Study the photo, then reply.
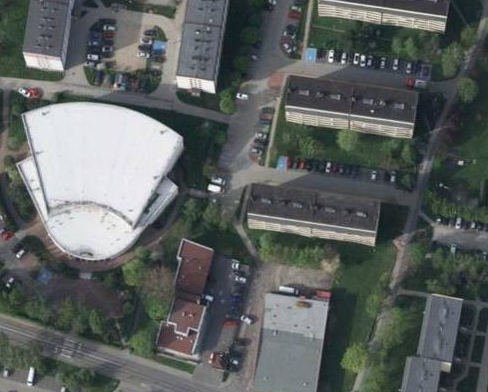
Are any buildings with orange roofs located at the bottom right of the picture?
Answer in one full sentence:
No, looking at the bottom right of the picture, there is no building with an orange roof.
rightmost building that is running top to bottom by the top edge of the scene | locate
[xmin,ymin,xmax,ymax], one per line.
[176,0,229,93]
